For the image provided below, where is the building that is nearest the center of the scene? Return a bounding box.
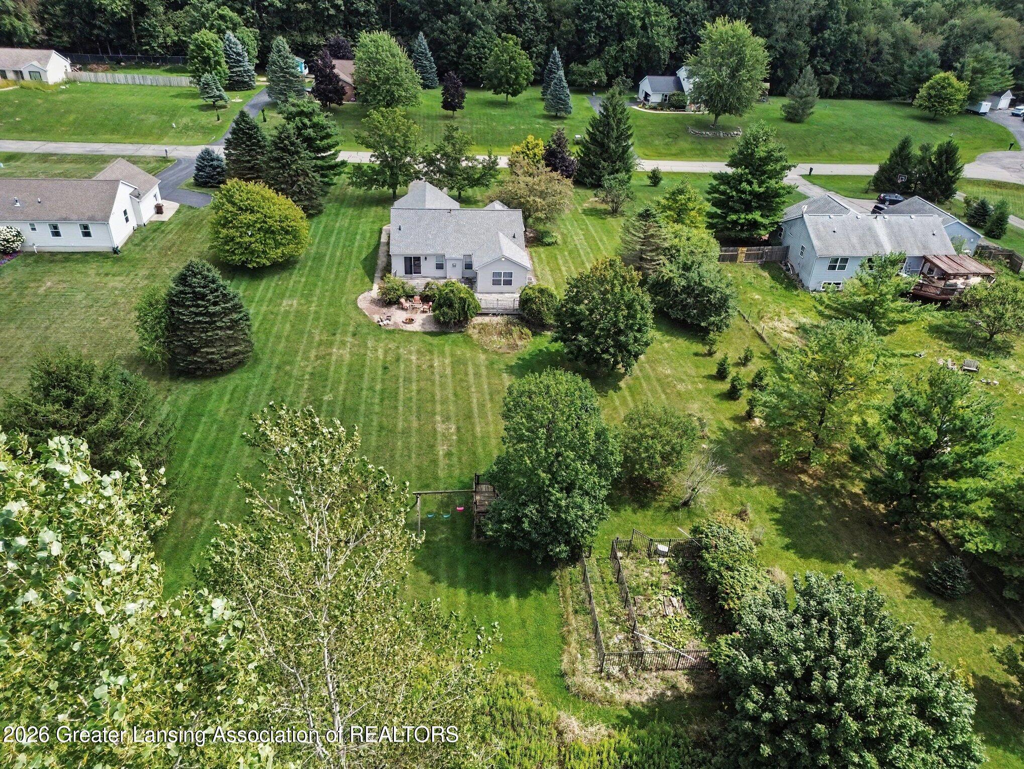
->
[388,183,532,292]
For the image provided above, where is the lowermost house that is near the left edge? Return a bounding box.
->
[0,156,167,254]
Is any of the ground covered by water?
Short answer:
No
